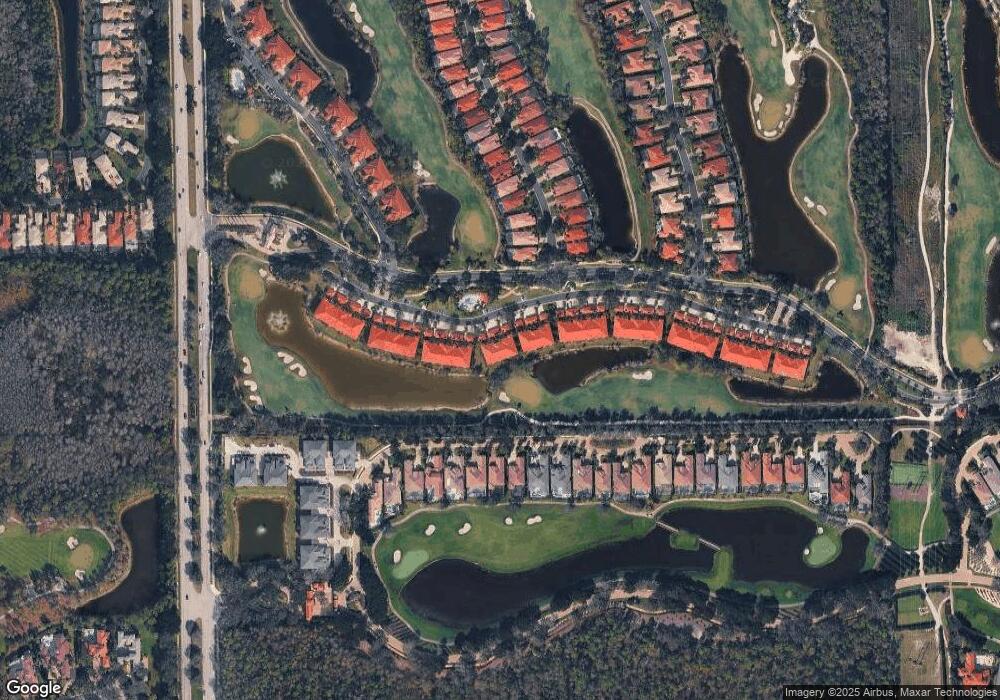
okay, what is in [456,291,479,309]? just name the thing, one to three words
swimming pool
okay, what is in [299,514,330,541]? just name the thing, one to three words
building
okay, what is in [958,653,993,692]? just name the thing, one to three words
house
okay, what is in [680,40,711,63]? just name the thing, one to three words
house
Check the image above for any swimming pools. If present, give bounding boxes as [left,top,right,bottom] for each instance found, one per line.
[230,69,244,92]
[456,291,479,309]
